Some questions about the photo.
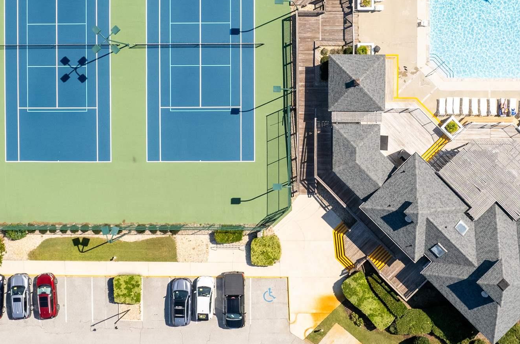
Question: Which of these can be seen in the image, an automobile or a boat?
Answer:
automobile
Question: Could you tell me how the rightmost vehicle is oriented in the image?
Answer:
up and down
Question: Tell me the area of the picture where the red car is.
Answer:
bottom left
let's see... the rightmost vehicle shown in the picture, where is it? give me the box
[221,271,246,328]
